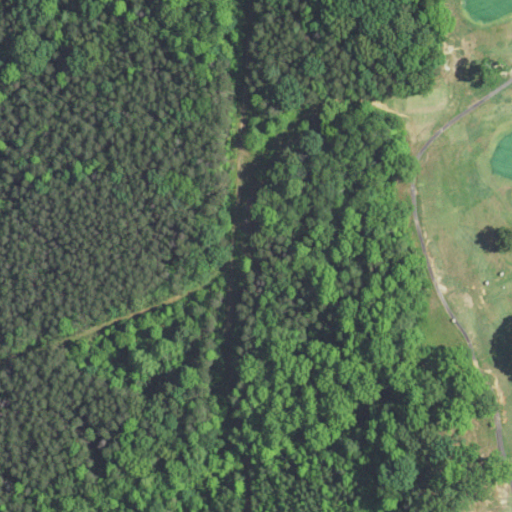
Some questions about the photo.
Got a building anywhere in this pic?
No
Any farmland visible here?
No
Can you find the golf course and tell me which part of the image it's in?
right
